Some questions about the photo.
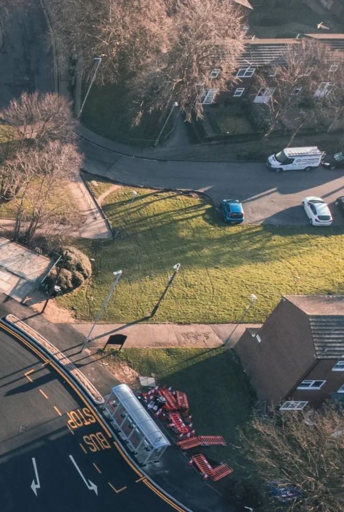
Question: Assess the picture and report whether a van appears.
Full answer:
Yes, there's a van down there.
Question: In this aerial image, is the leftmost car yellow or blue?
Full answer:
The color of the leftmost car is blue.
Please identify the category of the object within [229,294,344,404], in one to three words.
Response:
house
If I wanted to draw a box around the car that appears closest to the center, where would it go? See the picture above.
[222,194,248,226]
